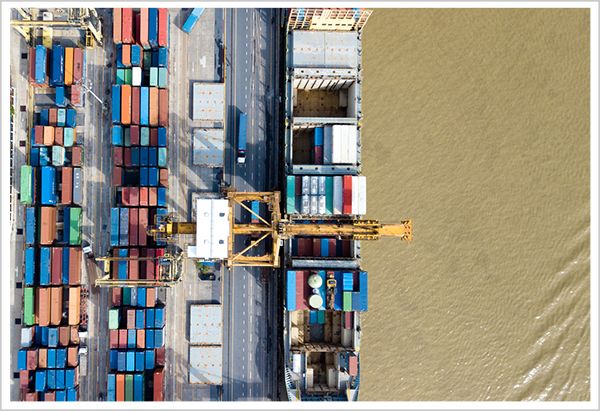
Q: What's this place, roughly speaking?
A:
port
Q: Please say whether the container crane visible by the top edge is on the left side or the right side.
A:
left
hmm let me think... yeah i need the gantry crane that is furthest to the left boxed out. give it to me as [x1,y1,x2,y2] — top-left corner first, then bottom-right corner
[9,0,110,49]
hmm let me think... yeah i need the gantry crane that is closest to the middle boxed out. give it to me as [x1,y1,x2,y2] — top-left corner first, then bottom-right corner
[145,189,411,268]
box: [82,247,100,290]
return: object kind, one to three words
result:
vehicle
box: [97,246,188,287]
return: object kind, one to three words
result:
container crane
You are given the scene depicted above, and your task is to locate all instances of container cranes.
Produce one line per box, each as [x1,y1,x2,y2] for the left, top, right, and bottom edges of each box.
[97,246,188,287]
[9,0,110,49]
[145,189,411,268]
